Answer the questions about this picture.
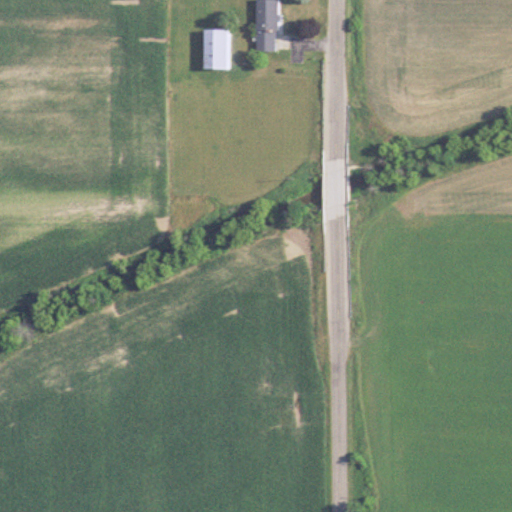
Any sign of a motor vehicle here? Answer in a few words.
No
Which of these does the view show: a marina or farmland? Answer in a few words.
farmland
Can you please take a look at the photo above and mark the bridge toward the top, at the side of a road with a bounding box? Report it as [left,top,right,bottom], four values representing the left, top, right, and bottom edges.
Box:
[322,144,350,238]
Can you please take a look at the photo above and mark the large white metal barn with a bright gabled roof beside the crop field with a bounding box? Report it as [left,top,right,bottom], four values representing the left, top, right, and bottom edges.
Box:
[204,30,230,71]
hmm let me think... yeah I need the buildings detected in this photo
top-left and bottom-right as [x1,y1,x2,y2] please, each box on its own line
[256,0,283,50]
[204,30,230,71]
